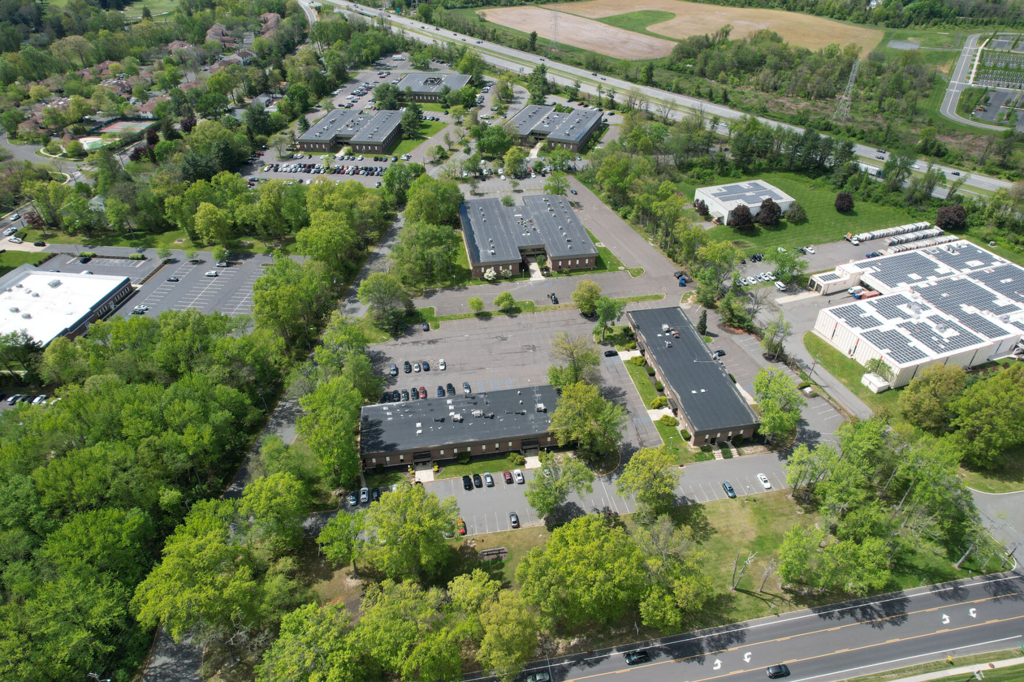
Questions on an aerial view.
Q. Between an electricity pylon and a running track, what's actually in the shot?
electricity pylon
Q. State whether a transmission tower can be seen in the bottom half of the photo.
No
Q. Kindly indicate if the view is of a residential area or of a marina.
residential area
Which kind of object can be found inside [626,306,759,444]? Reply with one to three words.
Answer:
building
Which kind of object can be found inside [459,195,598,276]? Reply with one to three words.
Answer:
building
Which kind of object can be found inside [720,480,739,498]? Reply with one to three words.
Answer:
car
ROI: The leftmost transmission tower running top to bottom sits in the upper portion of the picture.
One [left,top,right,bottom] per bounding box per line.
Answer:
[545,1,564,51]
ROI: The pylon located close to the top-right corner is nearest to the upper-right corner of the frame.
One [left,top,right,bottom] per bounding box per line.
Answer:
[829,53,865,120]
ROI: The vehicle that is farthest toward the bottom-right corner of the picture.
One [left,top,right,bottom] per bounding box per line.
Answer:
[764,663,792,679]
